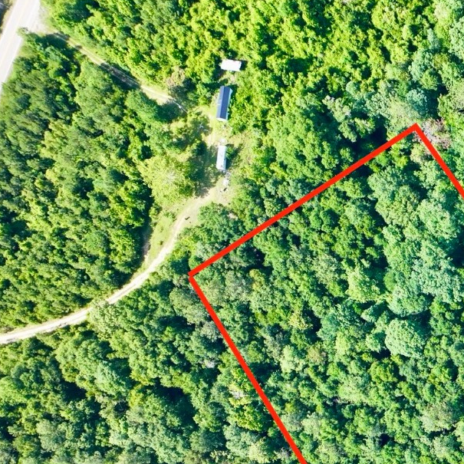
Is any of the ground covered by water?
No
